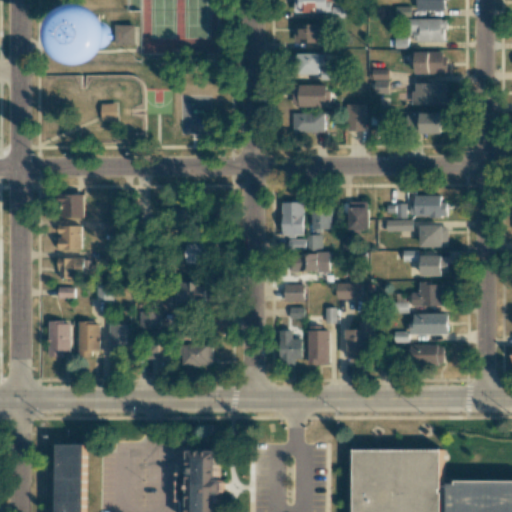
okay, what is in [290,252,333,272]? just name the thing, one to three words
house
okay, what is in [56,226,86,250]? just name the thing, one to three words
house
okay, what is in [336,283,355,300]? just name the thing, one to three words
building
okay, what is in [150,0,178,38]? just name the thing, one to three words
tennis court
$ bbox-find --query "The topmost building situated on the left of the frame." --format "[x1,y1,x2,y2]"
[115,26,142,46]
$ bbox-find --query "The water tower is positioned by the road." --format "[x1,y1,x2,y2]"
[42,3,114,64]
